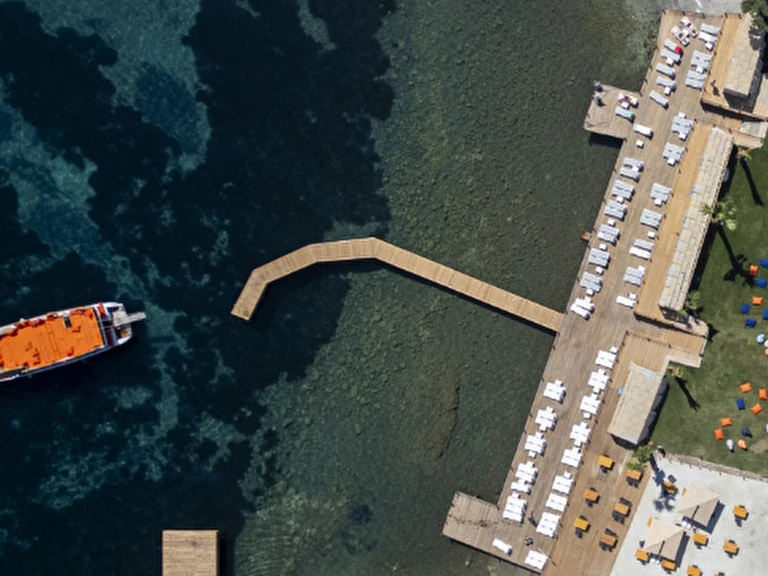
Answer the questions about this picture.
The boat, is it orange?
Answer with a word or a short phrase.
Yes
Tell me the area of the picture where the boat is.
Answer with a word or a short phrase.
left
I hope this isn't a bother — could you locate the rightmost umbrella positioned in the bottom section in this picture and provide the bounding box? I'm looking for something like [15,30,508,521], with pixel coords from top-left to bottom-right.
[676,483,719,526]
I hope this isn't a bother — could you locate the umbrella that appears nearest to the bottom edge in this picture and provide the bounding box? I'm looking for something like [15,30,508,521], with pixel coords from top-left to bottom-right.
[644,518,685,560]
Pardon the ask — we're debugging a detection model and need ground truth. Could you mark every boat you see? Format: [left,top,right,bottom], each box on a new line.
[0,299,147,382]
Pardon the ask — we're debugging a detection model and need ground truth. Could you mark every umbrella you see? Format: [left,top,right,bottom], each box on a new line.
[676,483,719,526]
[644,518,685,560]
